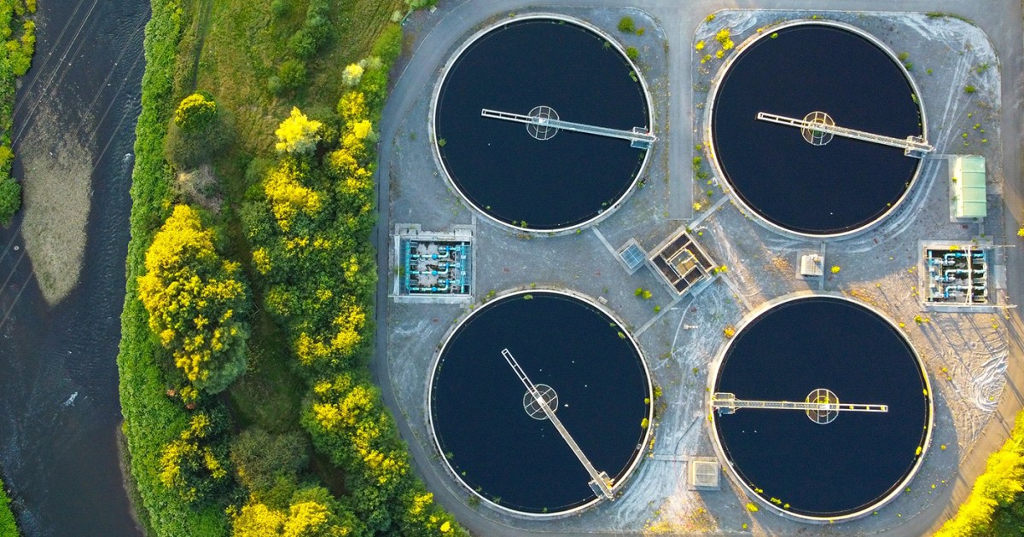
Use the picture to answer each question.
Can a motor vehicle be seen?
No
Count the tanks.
4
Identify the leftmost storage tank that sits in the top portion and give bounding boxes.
[430,14,659,237]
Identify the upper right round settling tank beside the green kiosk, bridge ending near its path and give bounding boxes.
[699,20,937,243]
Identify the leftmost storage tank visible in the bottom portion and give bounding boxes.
[425,286,656,520]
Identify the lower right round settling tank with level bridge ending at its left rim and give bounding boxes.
[701,290,933,523]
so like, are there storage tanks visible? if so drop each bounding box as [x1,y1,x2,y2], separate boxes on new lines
[699,20,937,243]
[430,14,659,237]
[701,290,933,523]
[425,286,656,520]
